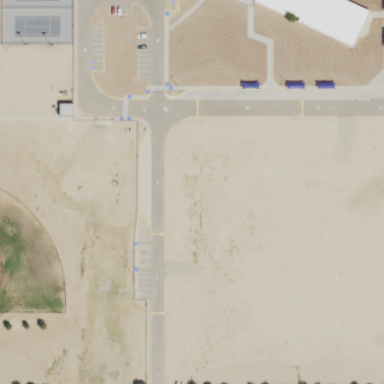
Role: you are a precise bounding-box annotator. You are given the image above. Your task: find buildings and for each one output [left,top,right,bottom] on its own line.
[59,102,74,116]
[256,0,370,46]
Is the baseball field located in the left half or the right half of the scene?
left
